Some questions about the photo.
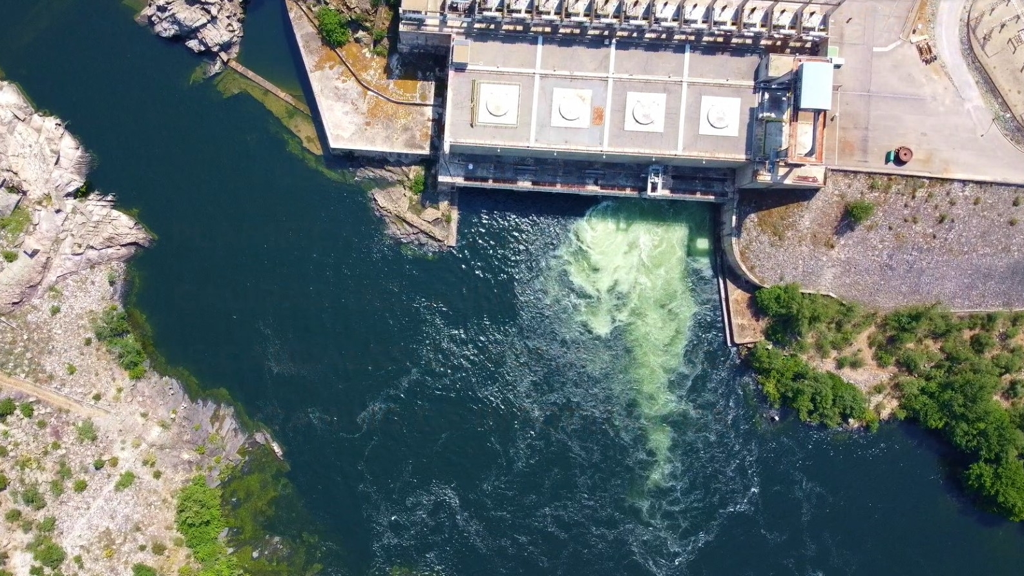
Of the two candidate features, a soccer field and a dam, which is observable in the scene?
dam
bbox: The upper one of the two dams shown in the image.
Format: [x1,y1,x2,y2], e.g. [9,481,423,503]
[399,0,832,61]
